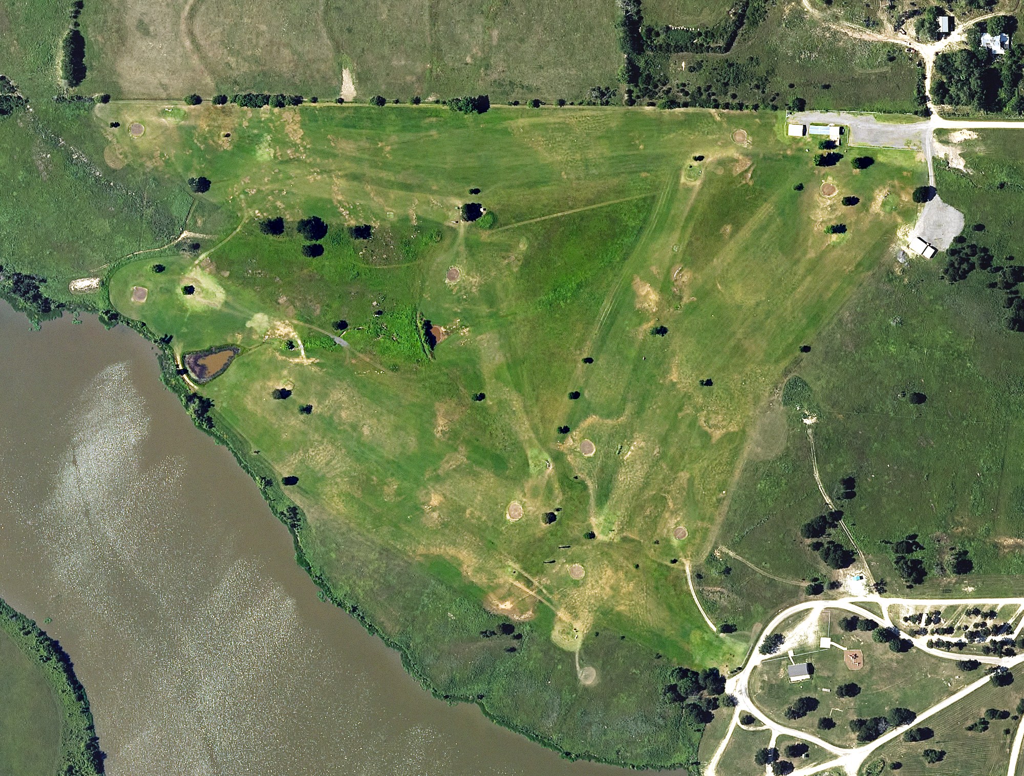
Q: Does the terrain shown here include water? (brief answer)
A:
Yes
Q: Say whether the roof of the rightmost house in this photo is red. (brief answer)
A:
No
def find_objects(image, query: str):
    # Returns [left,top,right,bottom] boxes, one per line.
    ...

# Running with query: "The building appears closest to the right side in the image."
[981,33,1011,56]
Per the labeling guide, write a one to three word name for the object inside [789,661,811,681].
building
